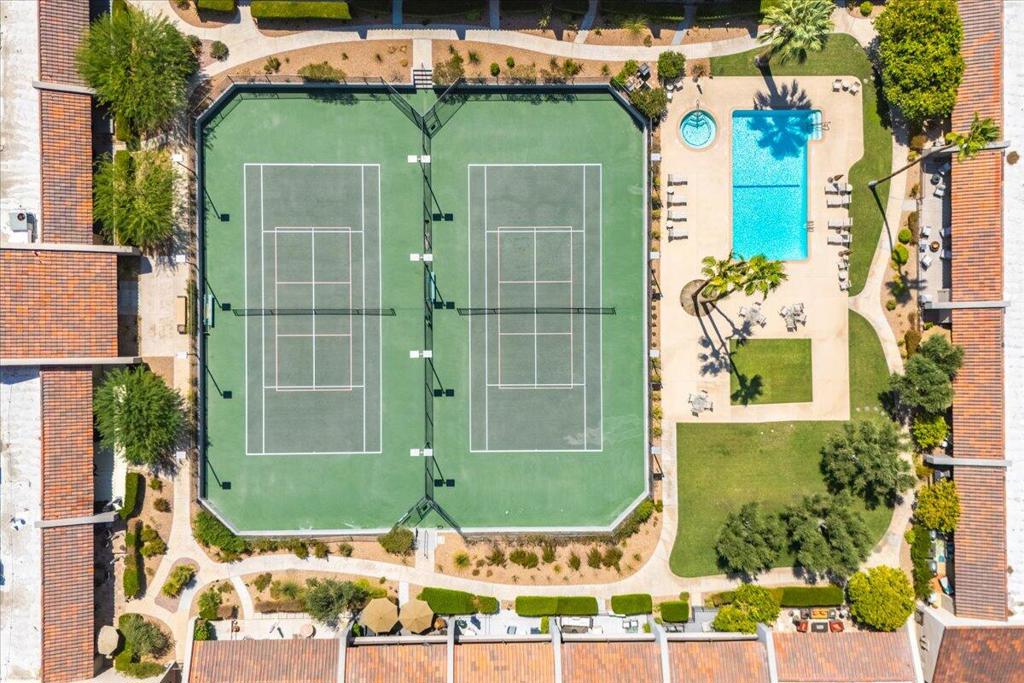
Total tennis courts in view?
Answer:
2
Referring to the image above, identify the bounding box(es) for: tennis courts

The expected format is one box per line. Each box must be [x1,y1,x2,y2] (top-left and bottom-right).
[203,88,429,531]
[427,89,644,529]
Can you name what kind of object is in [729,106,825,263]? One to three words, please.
swimming pool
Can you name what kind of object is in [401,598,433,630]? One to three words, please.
umbrella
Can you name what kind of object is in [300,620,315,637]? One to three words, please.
umbrella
